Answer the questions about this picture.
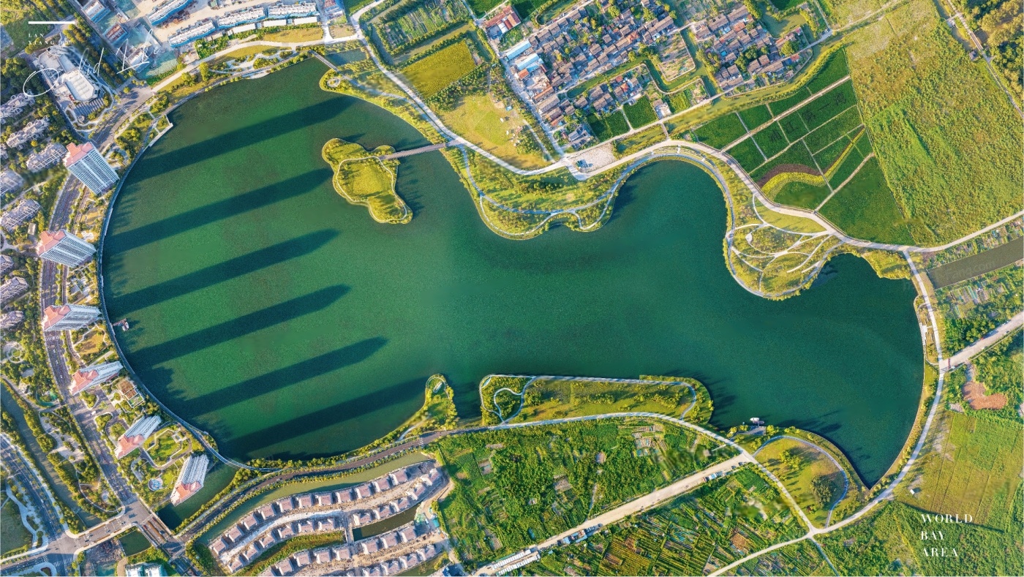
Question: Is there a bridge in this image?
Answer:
Yes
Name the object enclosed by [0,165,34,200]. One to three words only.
building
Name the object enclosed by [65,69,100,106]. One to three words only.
building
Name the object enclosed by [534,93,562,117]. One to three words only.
house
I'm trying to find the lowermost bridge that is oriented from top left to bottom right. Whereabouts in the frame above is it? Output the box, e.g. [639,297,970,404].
[140,509,183,553]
